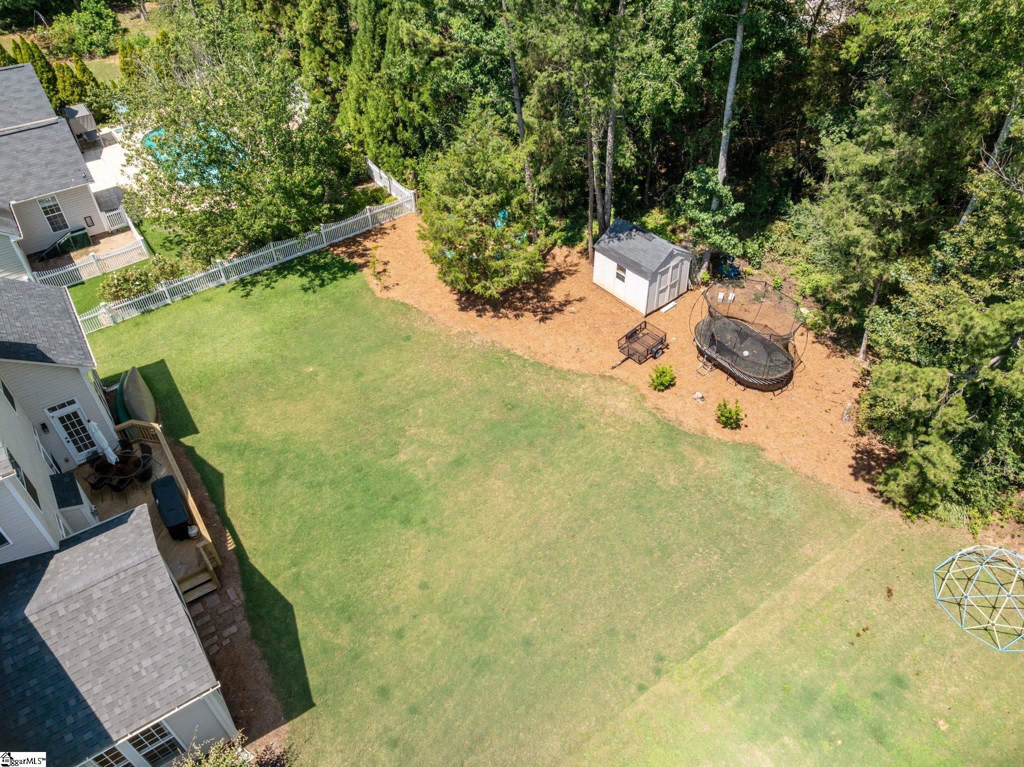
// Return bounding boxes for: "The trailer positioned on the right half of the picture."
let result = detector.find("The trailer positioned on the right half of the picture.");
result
[609,321,674,368]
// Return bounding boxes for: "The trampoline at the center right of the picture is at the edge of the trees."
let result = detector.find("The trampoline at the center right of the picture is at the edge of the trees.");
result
[683,280,812,400]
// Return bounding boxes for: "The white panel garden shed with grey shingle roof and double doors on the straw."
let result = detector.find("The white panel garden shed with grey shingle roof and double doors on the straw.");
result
[591,219,696,316]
